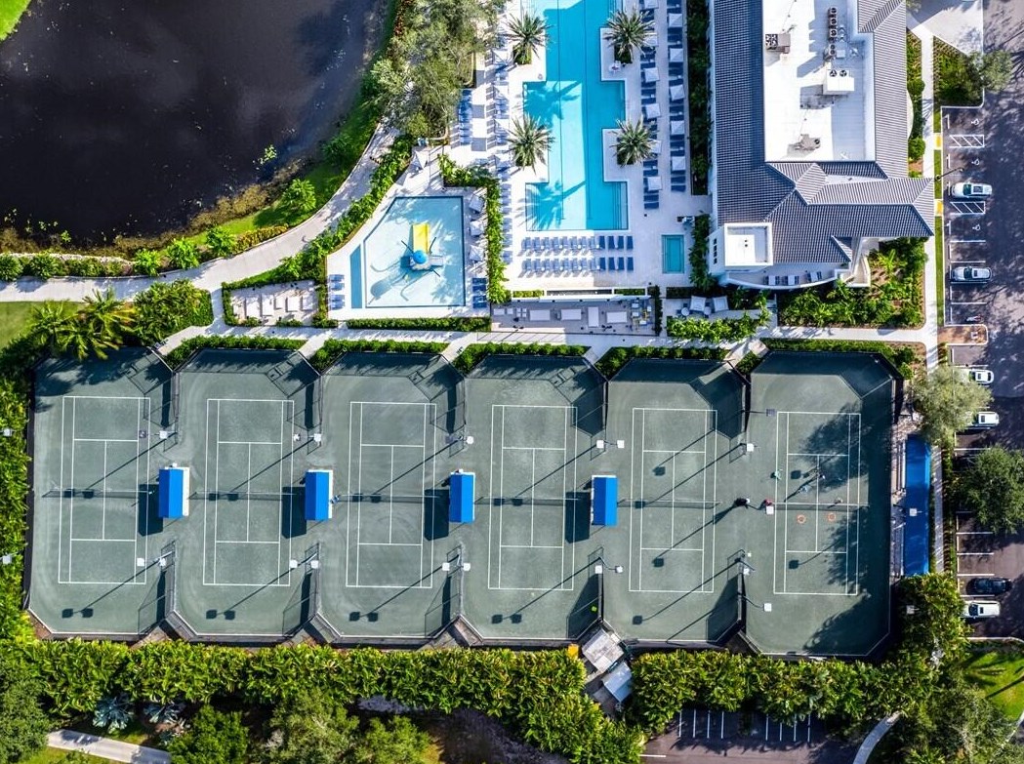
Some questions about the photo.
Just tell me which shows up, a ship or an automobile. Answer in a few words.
automobile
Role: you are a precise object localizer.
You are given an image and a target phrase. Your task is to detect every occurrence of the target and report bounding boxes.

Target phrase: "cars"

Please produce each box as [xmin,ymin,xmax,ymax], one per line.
[963,599,1000,619]
[960,412,1001,429]
[948,181,992,200]
[949,265,991,283]
[965,577,1011,595]
[954,367,993,383]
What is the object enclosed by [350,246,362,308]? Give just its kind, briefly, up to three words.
swimming pool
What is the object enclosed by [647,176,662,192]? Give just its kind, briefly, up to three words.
umbrella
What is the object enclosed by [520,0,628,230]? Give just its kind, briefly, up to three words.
swimming pool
